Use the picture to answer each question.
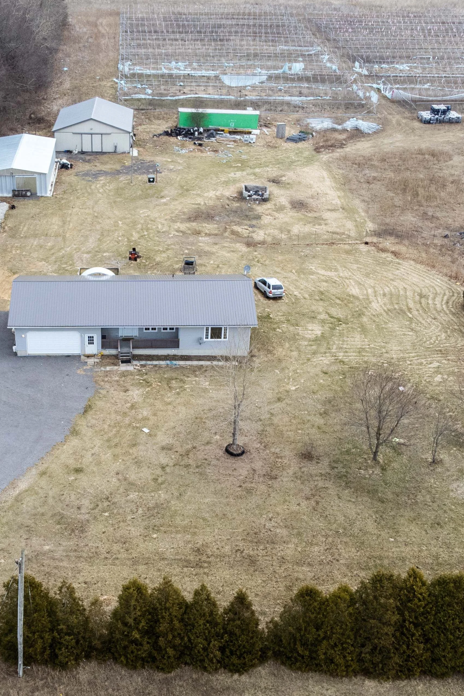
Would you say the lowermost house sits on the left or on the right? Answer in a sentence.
You can find the lowermost house on the left side of the picture.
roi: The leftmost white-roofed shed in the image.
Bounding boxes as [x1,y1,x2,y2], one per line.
[0,133,64,195]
